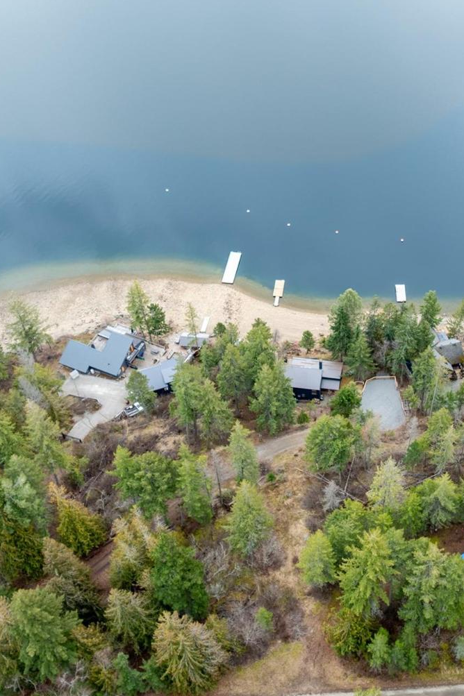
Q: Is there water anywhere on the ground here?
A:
Yes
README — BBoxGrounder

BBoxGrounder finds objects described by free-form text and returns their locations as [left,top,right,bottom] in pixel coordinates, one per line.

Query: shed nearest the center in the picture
[180,333,209,355]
